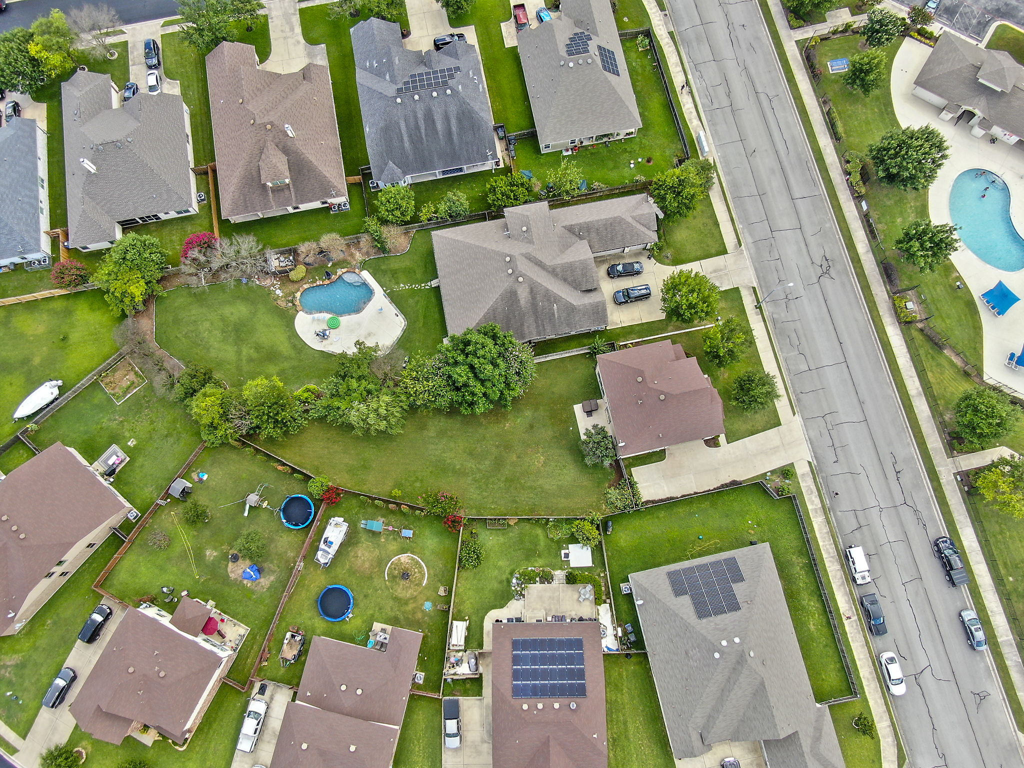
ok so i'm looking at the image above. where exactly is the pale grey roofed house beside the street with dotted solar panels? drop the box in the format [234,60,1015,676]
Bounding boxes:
[628,542,846,768]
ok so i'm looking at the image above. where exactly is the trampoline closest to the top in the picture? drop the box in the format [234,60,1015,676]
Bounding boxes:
[281,494,315,528]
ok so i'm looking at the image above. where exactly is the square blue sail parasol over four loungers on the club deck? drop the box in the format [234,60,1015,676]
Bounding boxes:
[980,278,1023,319]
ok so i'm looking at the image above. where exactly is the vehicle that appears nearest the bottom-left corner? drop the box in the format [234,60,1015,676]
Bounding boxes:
[38,665,78,711]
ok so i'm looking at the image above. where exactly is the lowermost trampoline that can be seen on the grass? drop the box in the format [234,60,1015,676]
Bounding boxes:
[318,584,354,621]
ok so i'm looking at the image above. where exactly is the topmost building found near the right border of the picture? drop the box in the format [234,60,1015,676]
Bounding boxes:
[908,30,1024,151]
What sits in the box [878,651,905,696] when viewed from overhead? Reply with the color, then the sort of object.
white car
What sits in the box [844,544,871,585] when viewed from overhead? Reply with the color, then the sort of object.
white car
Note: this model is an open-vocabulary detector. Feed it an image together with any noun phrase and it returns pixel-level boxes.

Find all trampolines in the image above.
[318,584,354,621]
[281,494,315,528]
